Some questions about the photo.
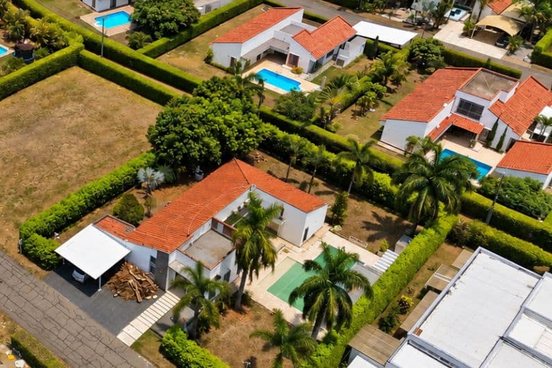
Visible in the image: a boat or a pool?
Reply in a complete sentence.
The one in the frame is a pool.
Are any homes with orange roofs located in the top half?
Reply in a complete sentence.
Yes, a home with an orange roof shows up in the top half.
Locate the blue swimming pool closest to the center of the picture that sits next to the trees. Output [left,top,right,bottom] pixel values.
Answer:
[252,67,301,93]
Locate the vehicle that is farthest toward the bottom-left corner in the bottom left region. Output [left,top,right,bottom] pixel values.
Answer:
[62,263,92,287]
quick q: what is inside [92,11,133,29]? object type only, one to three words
swimming pool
